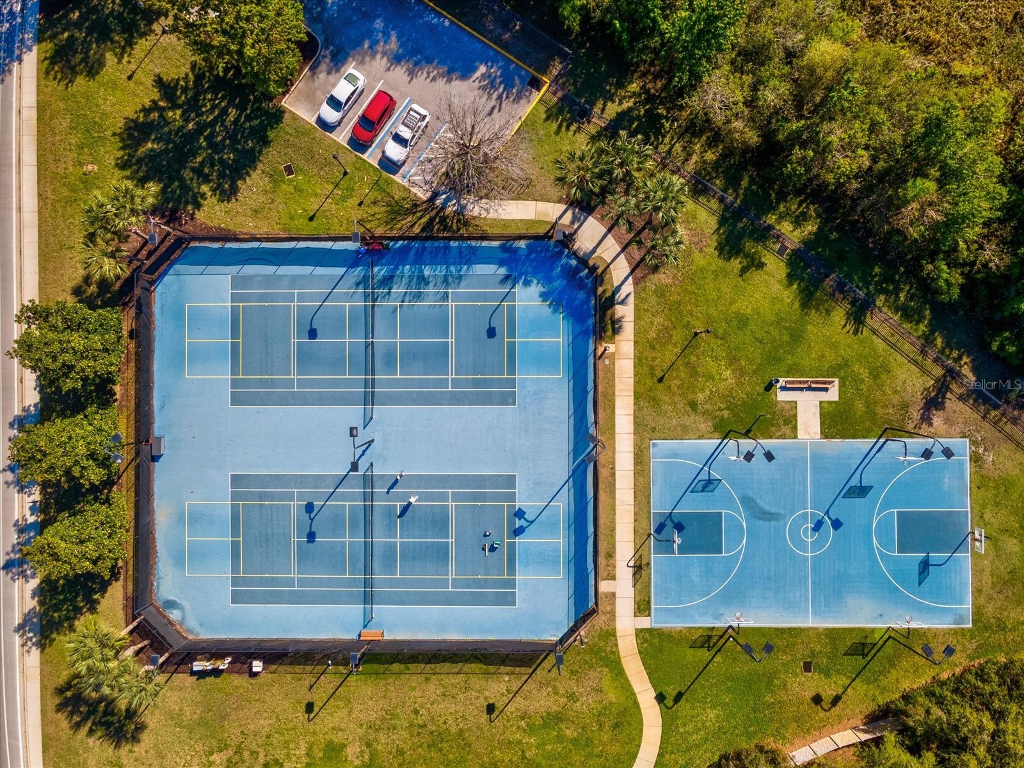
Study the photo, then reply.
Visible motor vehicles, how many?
3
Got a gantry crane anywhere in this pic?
No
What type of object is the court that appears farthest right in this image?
basketball court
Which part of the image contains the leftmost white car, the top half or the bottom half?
top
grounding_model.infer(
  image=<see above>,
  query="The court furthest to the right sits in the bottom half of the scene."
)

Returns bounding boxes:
[651,439,973,628]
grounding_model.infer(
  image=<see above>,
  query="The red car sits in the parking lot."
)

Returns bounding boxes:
[352,90,398,145]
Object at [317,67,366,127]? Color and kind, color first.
white car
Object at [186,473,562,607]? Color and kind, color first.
blue tennis court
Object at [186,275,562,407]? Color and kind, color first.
blue tennis court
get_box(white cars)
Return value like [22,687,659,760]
[382,103,433,165]
[317,67,366,127]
